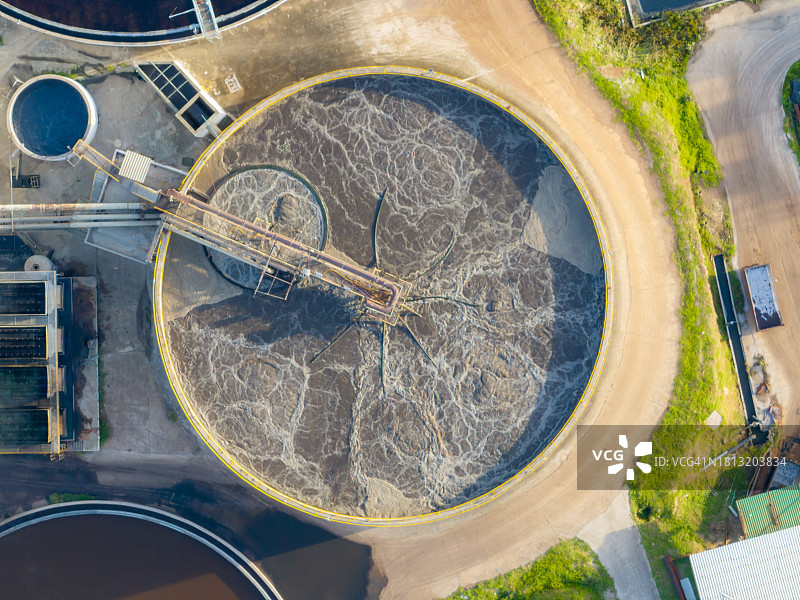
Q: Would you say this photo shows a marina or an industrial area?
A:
industrial area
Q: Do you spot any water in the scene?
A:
Yes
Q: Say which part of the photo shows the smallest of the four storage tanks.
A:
top left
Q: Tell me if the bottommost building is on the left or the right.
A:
right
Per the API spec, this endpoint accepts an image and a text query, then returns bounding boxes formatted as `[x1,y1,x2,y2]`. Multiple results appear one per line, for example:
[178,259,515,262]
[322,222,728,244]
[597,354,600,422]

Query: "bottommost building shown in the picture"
[684,523,800,600]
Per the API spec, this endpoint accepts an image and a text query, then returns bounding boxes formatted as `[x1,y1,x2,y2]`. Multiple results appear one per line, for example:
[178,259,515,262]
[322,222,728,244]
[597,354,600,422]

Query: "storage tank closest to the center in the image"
[152,67,610,525]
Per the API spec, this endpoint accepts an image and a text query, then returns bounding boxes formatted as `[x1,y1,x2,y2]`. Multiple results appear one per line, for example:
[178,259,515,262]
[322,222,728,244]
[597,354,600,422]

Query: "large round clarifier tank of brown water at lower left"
[0,498,288,600]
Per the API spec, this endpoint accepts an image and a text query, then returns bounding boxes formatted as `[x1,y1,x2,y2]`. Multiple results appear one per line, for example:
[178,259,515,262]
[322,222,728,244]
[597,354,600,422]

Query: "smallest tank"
[7,73,101,163]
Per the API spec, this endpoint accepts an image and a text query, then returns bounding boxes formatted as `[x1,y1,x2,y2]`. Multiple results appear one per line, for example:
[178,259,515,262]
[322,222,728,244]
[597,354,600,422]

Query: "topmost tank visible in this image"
[0,0,293,51]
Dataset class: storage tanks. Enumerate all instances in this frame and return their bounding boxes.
[0,0,293,51]
[0,498,288,600]
[152,67,610,525]
[7,73,101,163]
